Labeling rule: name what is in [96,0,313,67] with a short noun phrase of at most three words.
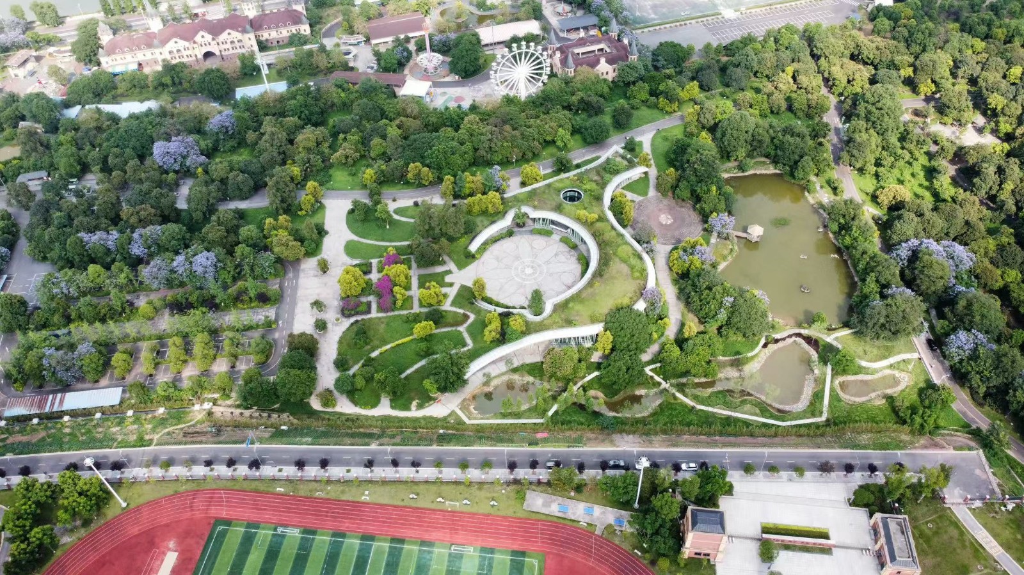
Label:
building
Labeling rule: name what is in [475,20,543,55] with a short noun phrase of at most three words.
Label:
shed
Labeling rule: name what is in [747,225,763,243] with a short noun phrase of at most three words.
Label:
gazebo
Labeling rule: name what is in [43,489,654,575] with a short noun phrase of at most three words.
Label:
running track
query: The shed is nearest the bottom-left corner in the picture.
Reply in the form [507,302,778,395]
[3,386,123,421]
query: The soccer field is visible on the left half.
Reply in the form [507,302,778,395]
[194,520,545,575]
